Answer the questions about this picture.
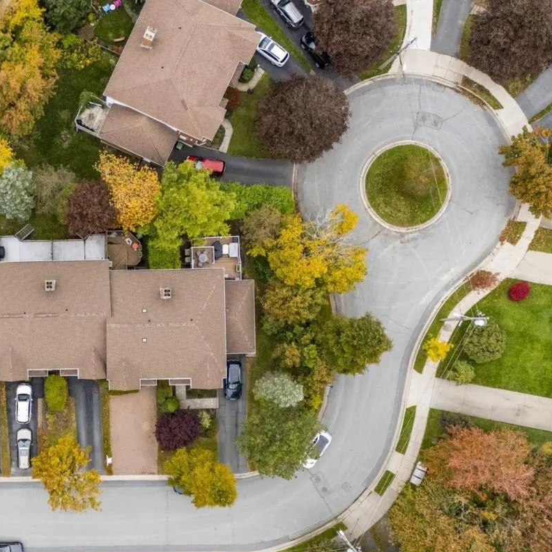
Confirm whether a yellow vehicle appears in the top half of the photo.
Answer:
No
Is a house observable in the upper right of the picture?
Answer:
No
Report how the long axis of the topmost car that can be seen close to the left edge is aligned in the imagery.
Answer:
from top to bottom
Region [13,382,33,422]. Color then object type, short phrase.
white car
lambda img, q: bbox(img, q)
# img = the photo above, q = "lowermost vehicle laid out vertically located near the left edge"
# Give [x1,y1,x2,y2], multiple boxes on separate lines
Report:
[14,428,34,468]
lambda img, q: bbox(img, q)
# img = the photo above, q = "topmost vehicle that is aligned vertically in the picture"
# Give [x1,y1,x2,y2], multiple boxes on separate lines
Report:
[224,360,243,398]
